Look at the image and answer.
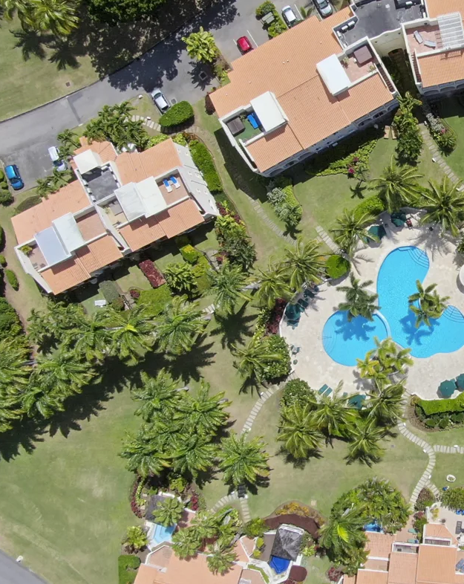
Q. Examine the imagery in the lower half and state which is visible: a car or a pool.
pool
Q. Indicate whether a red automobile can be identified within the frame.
Yes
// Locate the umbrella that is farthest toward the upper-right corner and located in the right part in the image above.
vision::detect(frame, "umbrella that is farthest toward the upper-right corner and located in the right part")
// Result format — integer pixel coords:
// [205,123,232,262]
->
[391,211,406,228]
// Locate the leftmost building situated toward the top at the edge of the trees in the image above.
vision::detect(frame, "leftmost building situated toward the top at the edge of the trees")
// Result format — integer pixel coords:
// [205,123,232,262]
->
[12,137,234,298]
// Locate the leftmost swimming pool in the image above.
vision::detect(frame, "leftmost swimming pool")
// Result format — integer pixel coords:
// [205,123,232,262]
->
[154,524,175,545]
